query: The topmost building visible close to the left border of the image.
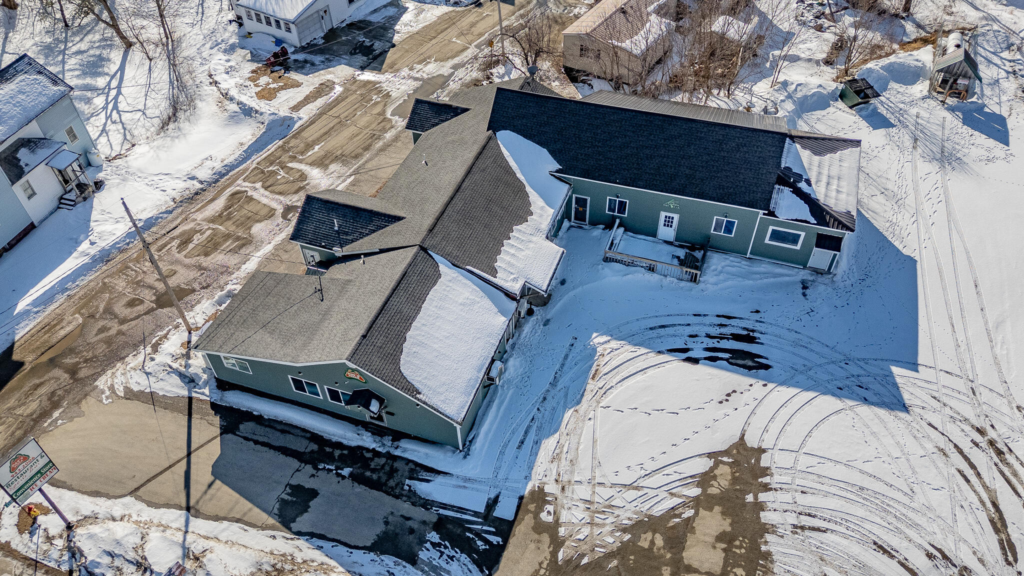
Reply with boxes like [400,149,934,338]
[0,52,98,253]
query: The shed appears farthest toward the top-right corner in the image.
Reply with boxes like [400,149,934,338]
[939,49,986,95]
